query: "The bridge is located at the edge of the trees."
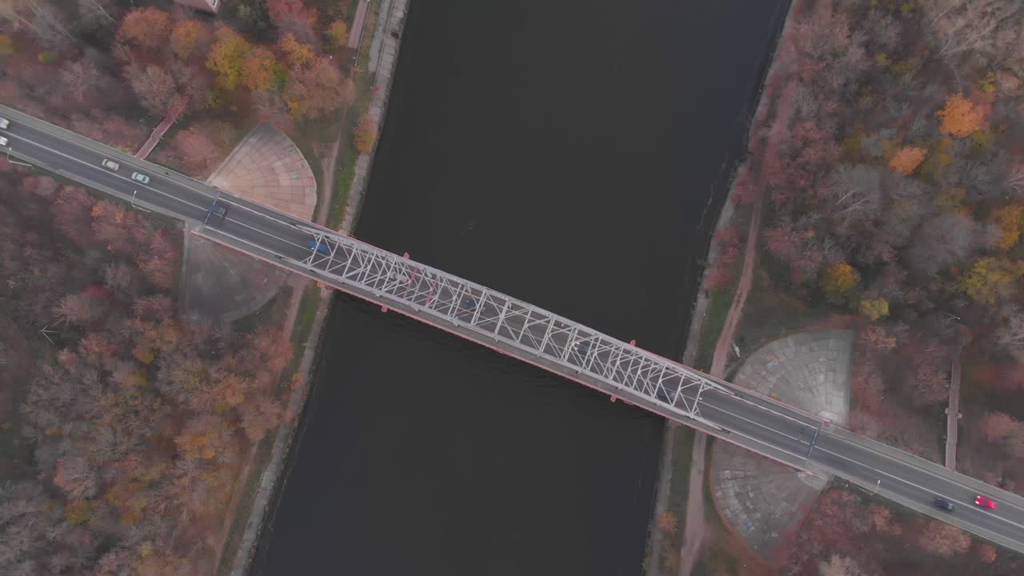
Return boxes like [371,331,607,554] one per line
[184,179,847,481]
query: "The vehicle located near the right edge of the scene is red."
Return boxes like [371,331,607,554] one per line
[974,496,996,510]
